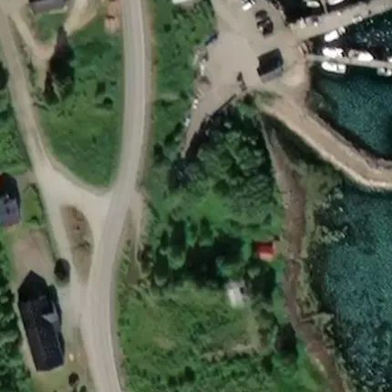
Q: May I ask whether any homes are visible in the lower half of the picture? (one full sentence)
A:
Yes, looking in the lower half of the picture, one can make out a home.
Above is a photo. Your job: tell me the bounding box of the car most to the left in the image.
[204,32,218,46]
